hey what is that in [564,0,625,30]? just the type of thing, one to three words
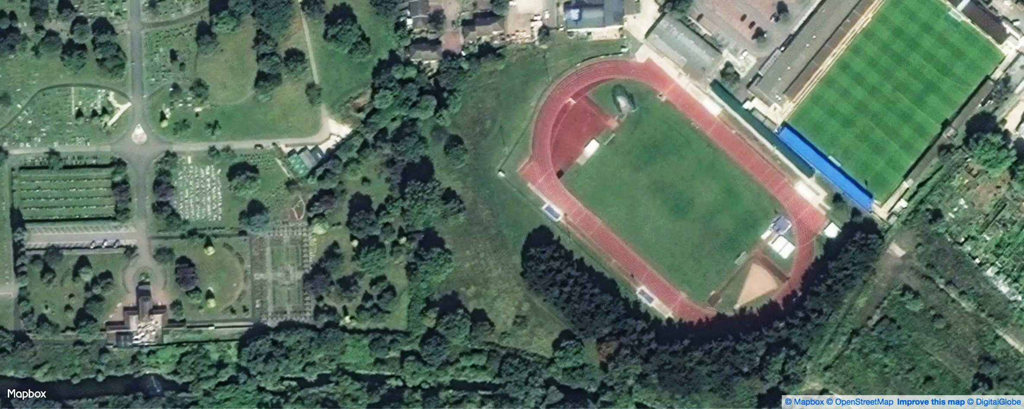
building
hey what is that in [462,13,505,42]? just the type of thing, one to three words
house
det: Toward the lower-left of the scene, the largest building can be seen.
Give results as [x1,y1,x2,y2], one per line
[106,285,185,348]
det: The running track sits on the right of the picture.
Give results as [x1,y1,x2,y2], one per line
[519,60,827,334]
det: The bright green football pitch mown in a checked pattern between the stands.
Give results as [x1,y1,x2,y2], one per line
[787,0,1004,202]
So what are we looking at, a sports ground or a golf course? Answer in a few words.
sports ground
